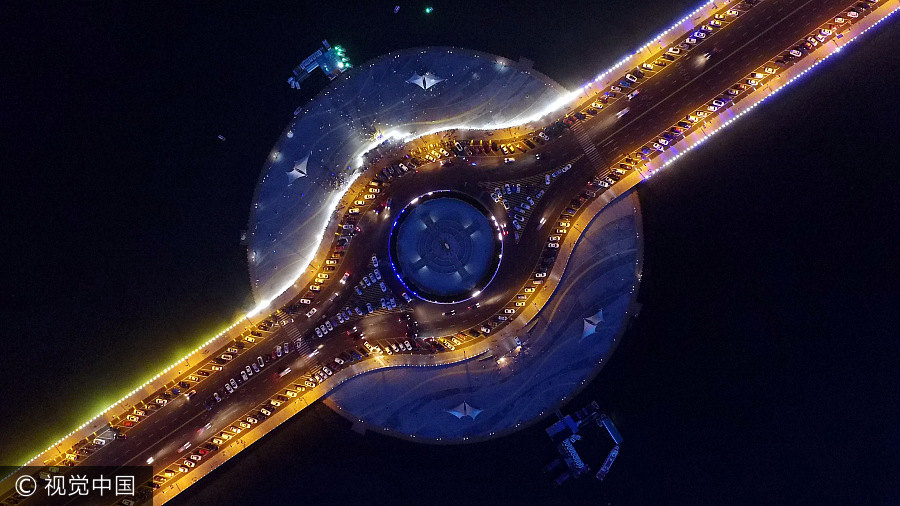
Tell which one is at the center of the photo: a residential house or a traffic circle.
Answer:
traffic circle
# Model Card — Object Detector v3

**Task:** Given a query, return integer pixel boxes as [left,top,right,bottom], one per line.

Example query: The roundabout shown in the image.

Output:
[388,190,504,304]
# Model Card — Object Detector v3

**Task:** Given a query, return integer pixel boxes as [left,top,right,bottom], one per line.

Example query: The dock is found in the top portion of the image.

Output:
[297,48,346,82]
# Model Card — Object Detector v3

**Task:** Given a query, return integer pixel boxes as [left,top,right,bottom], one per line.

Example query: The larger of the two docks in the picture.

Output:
[545,409,625,480]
